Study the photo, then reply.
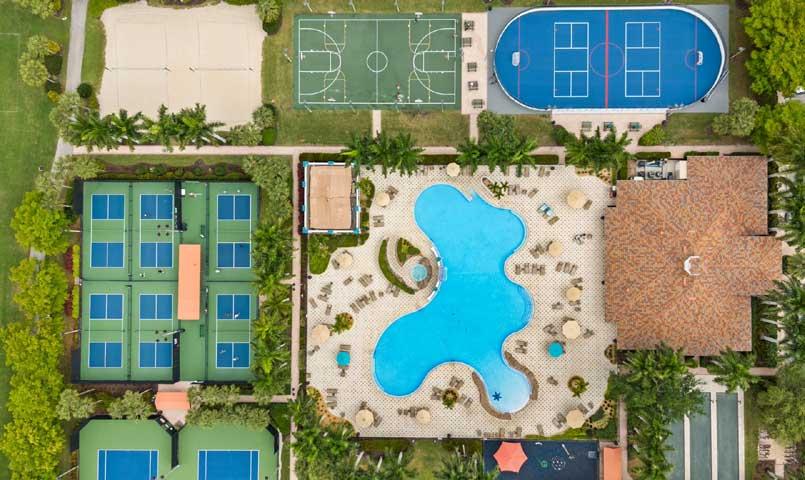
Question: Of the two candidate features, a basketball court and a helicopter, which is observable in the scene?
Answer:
basketball court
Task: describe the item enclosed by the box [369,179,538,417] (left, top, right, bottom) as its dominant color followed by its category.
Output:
blue swimming pool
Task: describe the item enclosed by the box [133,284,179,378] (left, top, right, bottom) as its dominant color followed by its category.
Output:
green sports court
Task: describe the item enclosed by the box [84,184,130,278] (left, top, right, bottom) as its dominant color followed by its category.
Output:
green sports court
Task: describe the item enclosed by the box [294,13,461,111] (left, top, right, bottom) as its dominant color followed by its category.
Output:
green basketball court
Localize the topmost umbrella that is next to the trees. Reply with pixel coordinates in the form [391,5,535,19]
[447,163,460,176]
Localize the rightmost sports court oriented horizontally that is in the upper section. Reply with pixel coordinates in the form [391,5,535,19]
[487,4,730,114]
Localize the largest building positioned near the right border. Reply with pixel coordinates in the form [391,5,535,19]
[605,155,782,357]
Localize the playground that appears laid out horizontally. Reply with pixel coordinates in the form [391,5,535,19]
[484,442,599,480]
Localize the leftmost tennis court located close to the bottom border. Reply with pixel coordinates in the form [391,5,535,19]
[80,426,171,480]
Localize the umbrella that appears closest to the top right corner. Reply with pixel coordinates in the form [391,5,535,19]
[567,189,586,208]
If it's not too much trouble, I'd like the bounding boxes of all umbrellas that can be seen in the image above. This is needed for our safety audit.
[375,192,389,207]
[357,409,374,427]
[567,189,586,208]
[548,343,563,357]
[336,251,352,267]
[562,321,580,339]
[566,287,580,301]
[416,408,430,423]
[549,242,562,255]
[336,351,351,365]
[447,163,460,176]
[311,325,329,343]
[566,410,584,428]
